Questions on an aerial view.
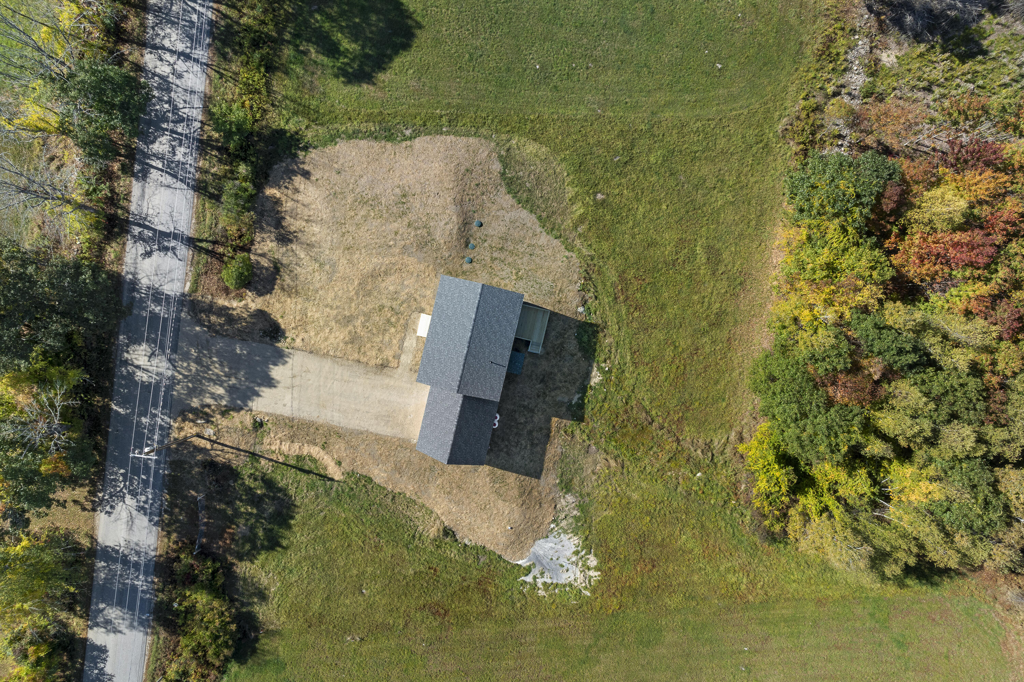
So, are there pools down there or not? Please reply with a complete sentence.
No, I find no pool anywhere in the image.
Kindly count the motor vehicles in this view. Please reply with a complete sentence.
I count no motor vehicles.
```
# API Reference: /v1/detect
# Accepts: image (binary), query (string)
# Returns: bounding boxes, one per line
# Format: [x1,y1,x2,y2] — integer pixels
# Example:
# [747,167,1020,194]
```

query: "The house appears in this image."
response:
[416,275,550,465]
